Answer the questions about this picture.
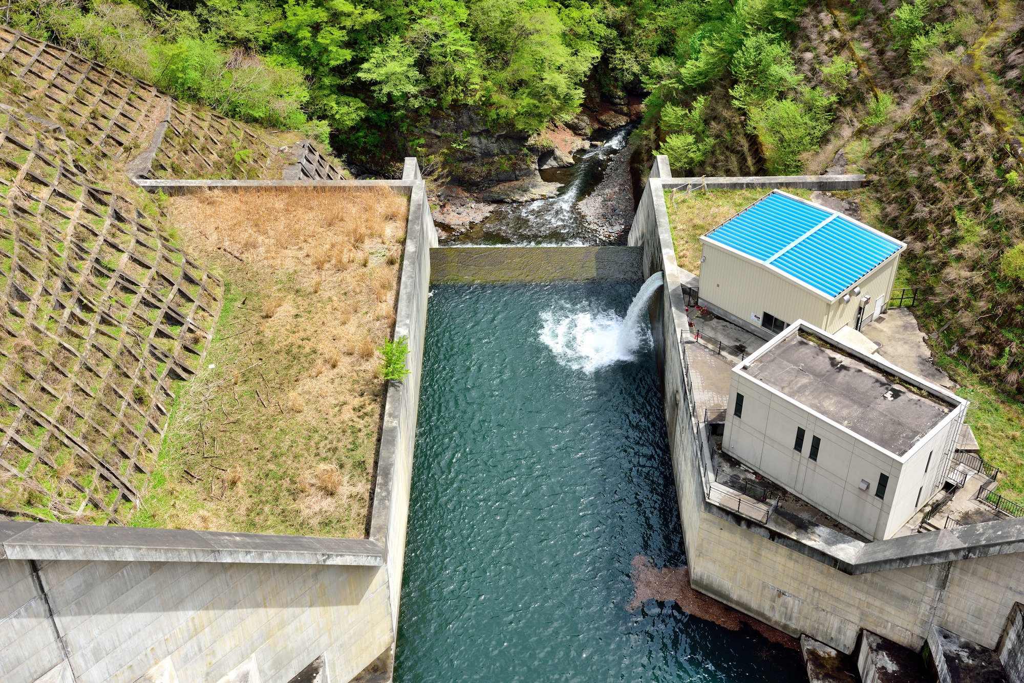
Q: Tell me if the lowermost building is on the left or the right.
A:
right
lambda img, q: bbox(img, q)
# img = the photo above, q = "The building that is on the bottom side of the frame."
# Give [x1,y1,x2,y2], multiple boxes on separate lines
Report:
[721,321,976,542]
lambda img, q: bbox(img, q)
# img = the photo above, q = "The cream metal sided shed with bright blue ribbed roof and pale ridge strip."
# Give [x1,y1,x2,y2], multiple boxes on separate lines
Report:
[699,189,909,341]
